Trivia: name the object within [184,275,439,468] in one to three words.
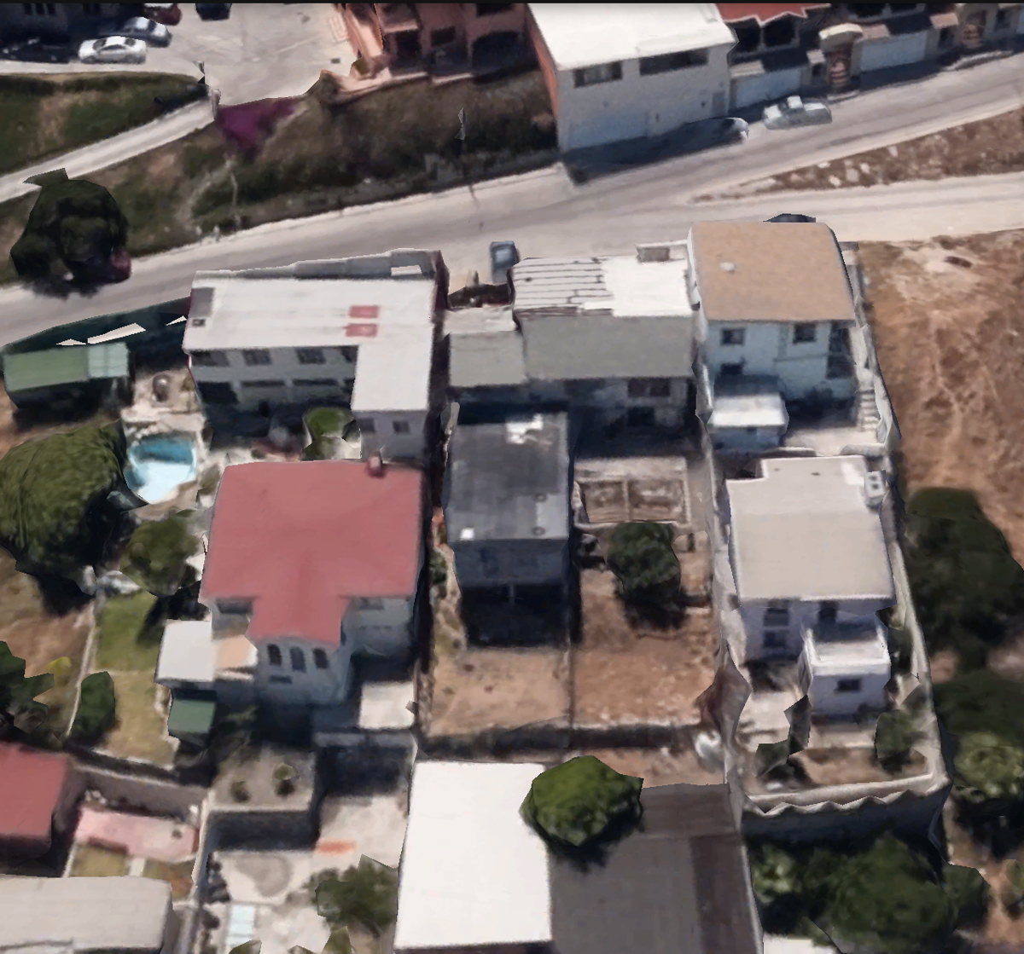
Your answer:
house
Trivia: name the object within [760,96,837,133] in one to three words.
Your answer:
truck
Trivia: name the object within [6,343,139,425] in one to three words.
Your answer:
shed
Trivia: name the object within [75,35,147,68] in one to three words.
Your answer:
car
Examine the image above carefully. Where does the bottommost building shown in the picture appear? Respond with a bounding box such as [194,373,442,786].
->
[0,875,178,954]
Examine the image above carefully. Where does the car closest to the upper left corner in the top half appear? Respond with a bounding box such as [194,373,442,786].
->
[0,32,67,64]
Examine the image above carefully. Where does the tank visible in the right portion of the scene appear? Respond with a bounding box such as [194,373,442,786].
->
[699,732,724,761]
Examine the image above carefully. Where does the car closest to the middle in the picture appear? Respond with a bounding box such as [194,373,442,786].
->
[486,236,518,291]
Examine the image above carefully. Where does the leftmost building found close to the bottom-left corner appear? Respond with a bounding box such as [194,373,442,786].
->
[0,739,76,861]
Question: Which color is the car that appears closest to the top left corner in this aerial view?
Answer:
black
